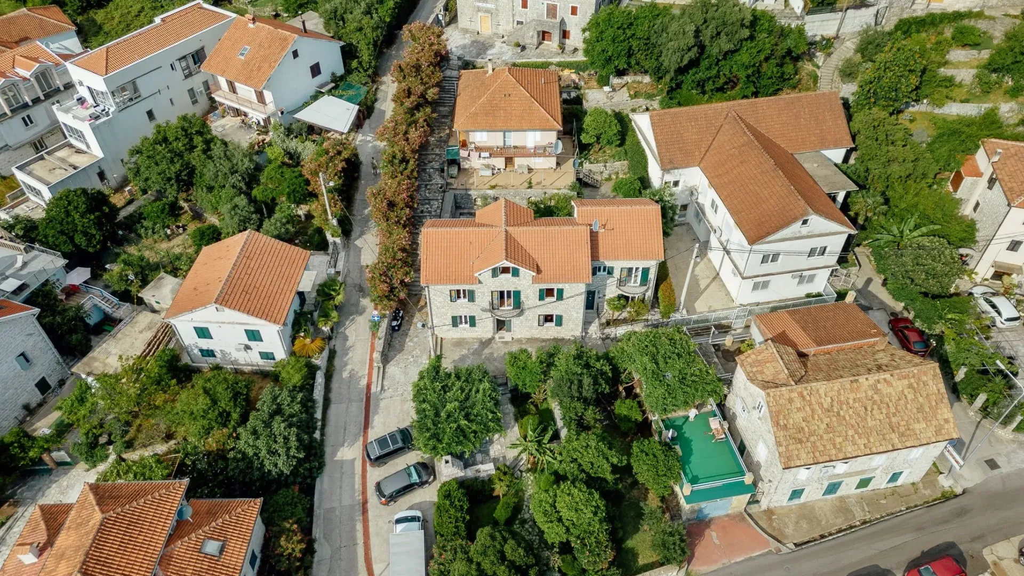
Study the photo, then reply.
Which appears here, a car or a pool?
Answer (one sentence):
Looking from above, you can make out a car.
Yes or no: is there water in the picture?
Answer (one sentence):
No, water can't be seen anywhere here.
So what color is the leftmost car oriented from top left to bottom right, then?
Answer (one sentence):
In this view, the leftmost car oriented from top left to bottom right is red.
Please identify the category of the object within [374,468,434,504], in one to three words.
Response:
car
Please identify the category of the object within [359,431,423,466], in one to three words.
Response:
car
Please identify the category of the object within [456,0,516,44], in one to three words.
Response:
building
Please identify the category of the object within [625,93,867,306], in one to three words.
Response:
house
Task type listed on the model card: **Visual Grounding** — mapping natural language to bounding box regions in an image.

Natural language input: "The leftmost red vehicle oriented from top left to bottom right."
[884,318,938,358]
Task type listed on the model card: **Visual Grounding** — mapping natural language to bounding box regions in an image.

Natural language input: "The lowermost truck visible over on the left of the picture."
[385,510,432,576]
